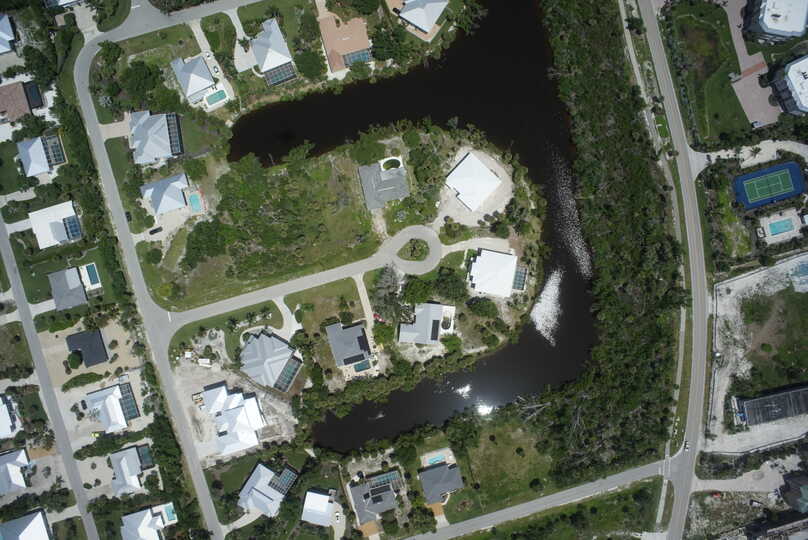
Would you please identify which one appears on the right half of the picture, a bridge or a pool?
pool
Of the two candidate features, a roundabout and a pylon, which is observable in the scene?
roundabout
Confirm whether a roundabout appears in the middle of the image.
Yes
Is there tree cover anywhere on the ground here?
Yes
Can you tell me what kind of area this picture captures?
residential area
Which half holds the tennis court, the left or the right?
right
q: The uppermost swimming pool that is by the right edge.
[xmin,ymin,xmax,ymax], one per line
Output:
[760,208,804,245]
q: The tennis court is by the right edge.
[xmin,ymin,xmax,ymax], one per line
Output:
[735,163,804,209]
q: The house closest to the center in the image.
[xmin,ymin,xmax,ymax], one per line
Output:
[399,304,442,344]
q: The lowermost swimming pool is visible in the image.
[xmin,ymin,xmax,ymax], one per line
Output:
[155,502,177,527]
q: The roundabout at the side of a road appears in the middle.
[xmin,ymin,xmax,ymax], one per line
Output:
[387,225,440,275]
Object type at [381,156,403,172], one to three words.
swimming pool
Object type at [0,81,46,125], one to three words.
house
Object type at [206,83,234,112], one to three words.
swimming pool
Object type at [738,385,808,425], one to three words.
building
